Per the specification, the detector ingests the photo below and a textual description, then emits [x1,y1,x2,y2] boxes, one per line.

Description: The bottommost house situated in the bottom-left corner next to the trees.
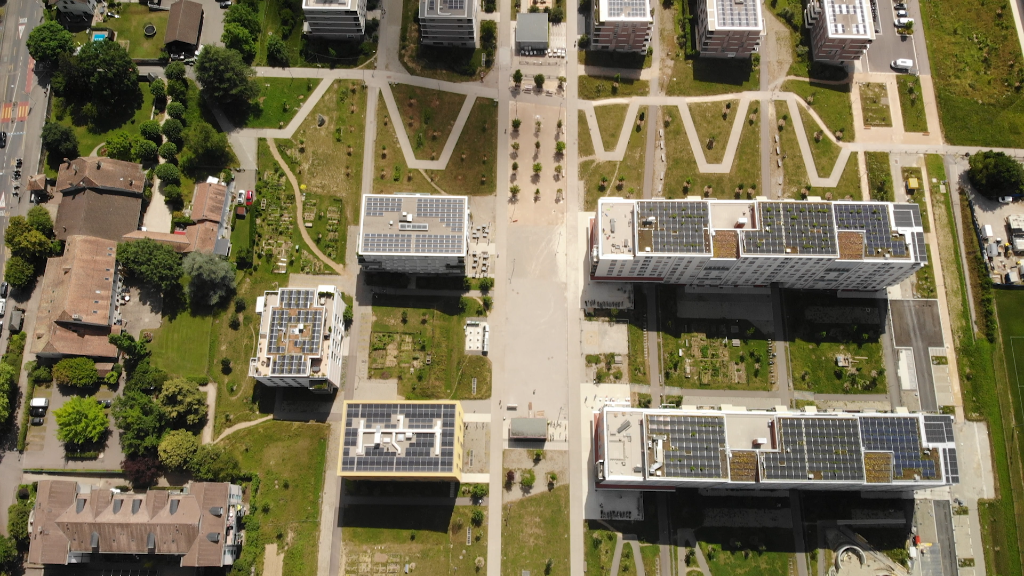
[28,479,244,567]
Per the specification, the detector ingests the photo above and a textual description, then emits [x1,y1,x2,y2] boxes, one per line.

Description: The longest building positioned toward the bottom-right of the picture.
[590,401,959,492]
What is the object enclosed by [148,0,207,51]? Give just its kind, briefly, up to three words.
barn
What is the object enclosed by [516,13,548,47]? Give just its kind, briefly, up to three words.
building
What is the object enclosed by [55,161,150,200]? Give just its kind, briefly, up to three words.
house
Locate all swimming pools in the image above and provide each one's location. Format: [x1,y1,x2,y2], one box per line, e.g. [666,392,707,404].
[91,29,117,43]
